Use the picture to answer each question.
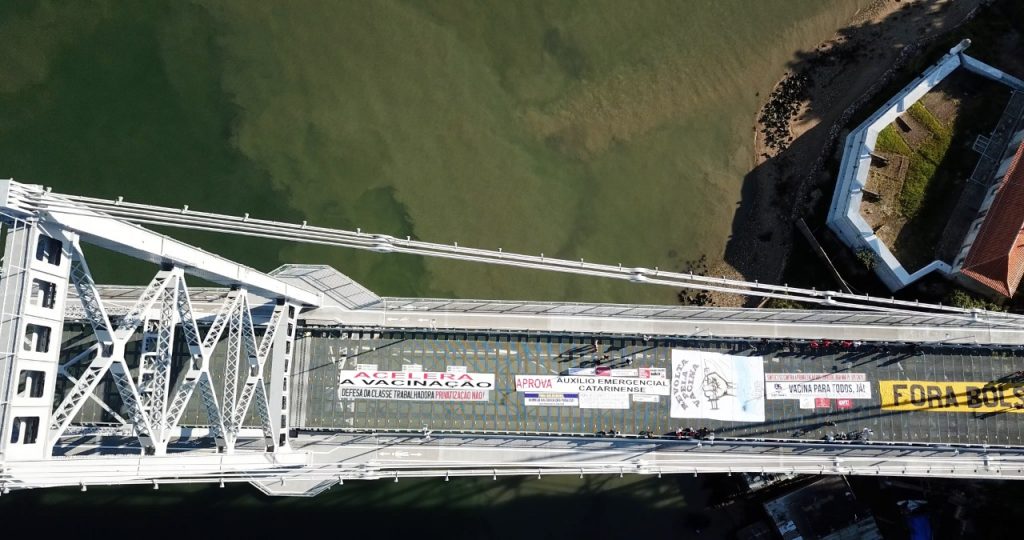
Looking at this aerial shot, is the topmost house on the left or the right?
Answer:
right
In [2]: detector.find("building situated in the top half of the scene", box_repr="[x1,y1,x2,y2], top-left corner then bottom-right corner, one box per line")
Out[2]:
[940,123,1024,297]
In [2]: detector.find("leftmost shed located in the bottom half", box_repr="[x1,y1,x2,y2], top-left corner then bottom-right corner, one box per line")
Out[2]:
[757,479,870,540]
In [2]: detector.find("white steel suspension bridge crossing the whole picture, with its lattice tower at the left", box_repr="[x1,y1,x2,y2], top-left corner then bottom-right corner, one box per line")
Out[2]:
[0,172,1024,498]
